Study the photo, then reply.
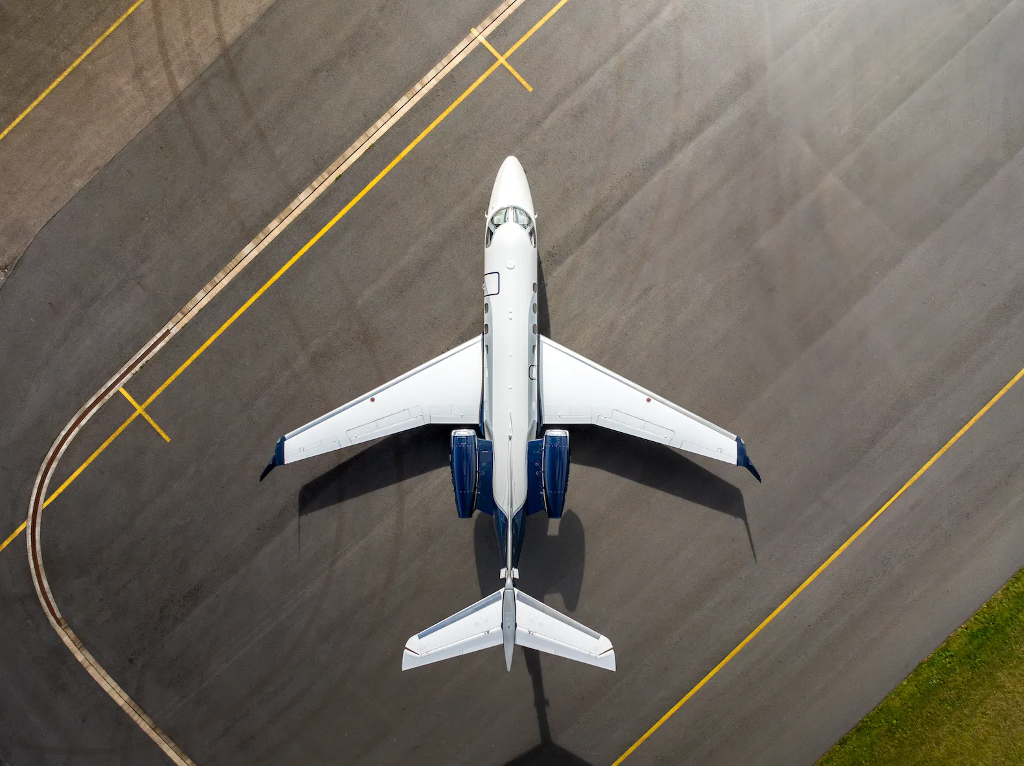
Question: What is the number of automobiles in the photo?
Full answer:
The photo contains no automobiles.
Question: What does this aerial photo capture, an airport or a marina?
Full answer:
It's an airport.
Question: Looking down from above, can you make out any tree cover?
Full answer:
No, tree cover can't be seen anywhere here.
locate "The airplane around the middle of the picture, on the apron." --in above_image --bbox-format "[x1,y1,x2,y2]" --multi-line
[259,156,761,672]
